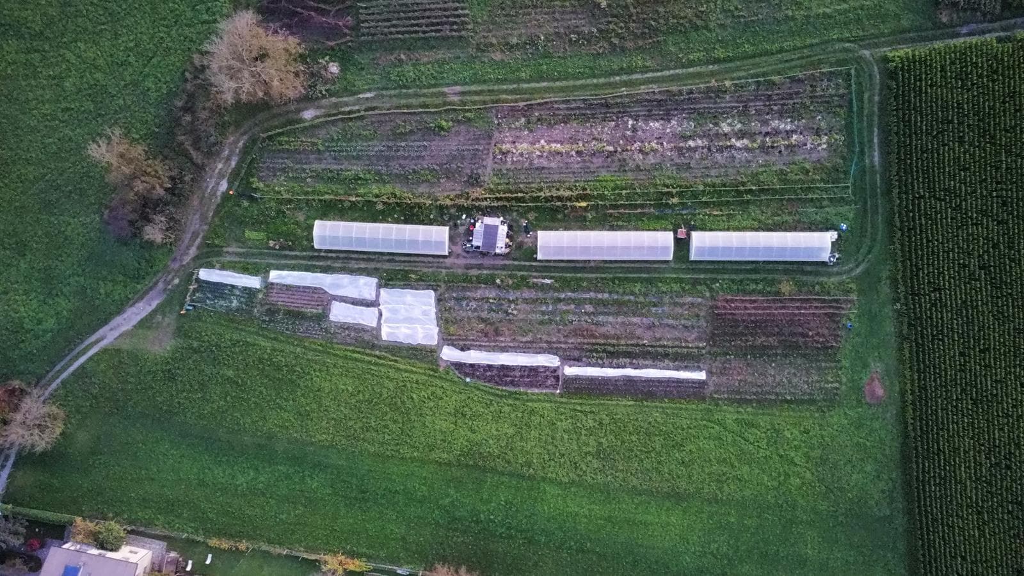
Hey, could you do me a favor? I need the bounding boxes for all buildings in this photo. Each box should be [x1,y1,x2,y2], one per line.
[42,525,150,576]
[473,217,507,252]
[689,231,836,261]
[537,231,675,260]
[312,220,450,255]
